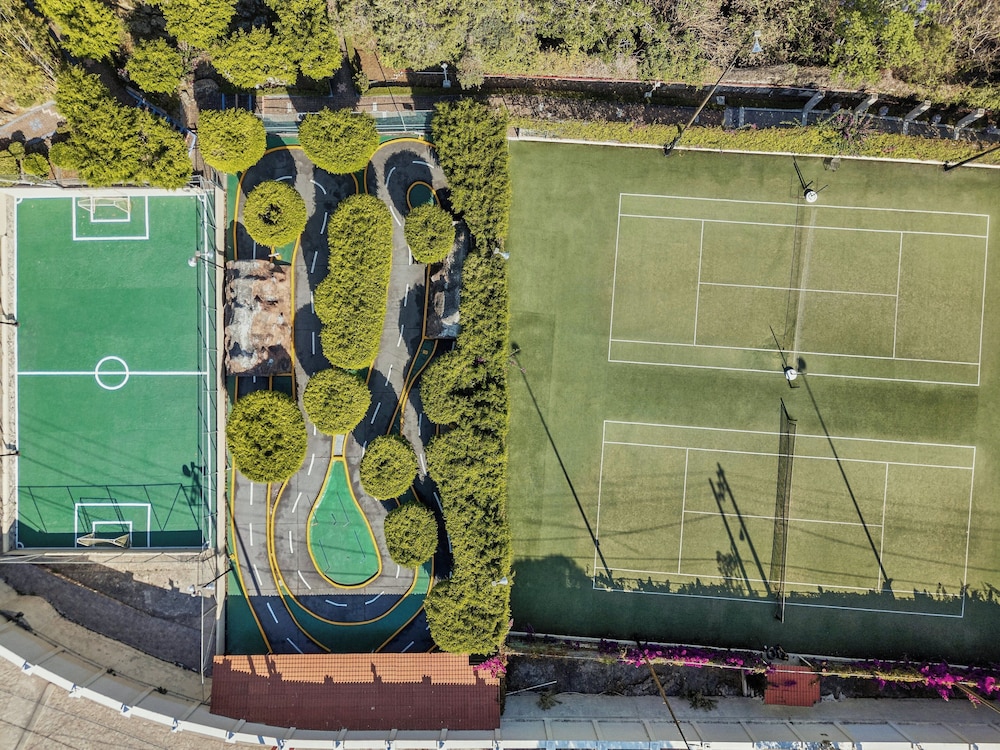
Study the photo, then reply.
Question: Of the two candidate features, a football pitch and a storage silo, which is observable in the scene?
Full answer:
There is a football pitch in the scene.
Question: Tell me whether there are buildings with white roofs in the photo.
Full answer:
No, no building with a white roof is visible in the view.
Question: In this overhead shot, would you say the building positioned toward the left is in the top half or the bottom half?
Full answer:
The building positioned toward the left is in the bottom half of the image.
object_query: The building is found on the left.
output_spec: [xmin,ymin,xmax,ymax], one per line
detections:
[201,644,500,737]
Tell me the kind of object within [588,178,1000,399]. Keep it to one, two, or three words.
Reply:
tennis court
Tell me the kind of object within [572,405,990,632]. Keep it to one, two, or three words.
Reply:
tennis court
